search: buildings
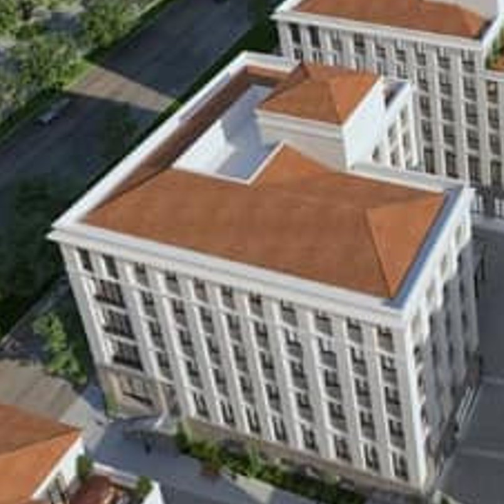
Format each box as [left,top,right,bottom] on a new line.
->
[0,421,162,504]
[48,52,478,485]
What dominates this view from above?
buildings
